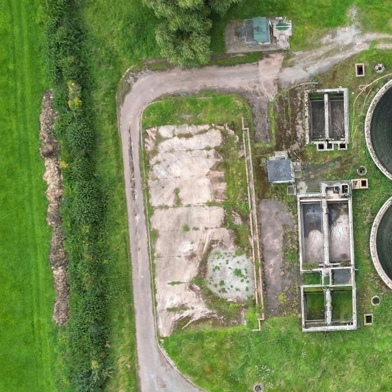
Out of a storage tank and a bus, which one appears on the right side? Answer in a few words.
storage tank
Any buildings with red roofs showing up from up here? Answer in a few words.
No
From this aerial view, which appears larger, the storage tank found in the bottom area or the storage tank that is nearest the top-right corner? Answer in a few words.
the storage tank found in the bottom area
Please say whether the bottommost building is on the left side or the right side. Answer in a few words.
right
